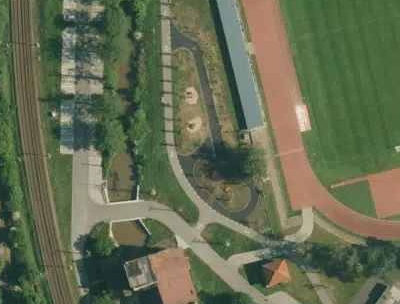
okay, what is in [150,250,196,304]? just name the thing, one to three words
house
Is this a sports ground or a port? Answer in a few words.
sports ground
